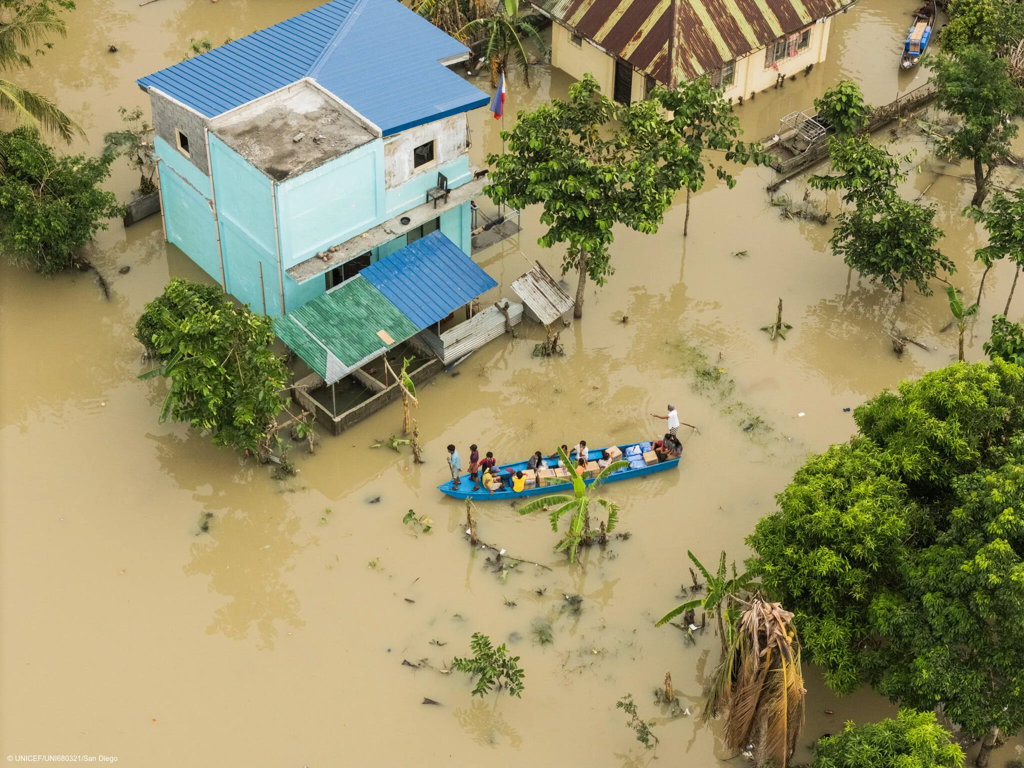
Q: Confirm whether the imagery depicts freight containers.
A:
No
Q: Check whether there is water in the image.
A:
Yes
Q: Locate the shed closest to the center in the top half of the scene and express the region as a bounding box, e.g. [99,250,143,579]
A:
[510,252,575,345]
